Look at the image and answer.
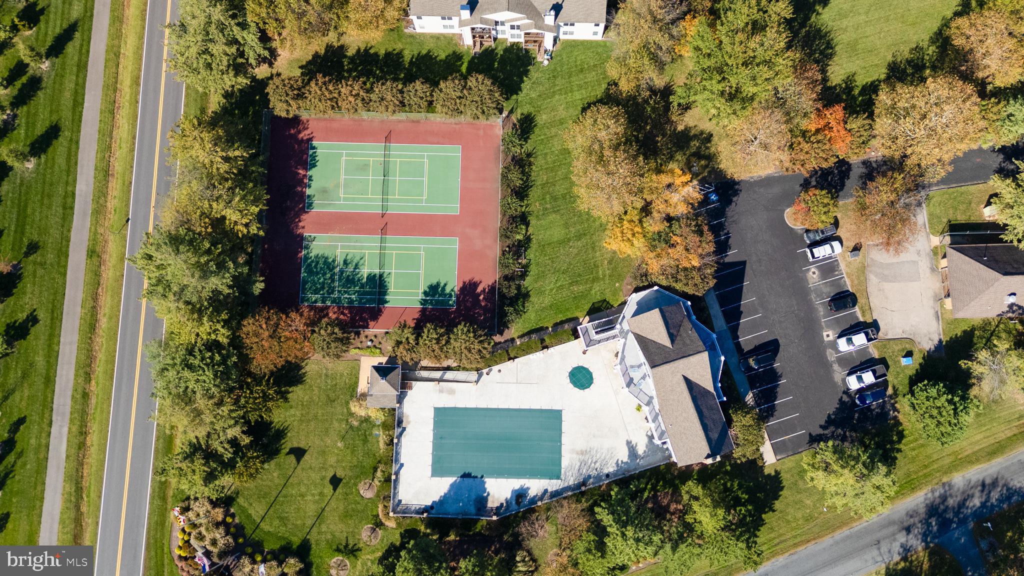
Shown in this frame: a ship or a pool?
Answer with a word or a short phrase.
pool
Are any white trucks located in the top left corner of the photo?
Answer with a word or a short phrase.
No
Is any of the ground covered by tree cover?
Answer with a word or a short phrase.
Yes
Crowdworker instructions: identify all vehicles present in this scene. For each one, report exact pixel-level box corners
[853,387,889,405]
[739,350,778,372]
[836,329,878,350]
[801,225,839,243]
[845,366,888,387]
[827,294,858,312]
[806,239,843,261]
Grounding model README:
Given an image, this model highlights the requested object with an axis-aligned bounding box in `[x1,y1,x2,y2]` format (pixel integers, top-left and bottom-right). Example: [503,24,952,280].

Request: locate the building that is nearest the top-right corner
[946,244,1024,318]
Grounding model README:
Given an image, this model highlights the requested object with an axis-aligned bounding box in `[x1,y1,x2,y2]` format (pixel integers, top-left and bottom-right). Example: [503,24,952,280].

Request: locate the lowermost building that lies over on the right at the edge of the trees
[613,287,735,468]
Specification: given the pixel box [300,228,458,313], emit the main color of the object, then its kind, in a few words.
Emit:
green tennis court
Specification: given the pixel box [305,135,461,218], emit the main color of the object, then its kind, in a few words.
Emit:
green tennis court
